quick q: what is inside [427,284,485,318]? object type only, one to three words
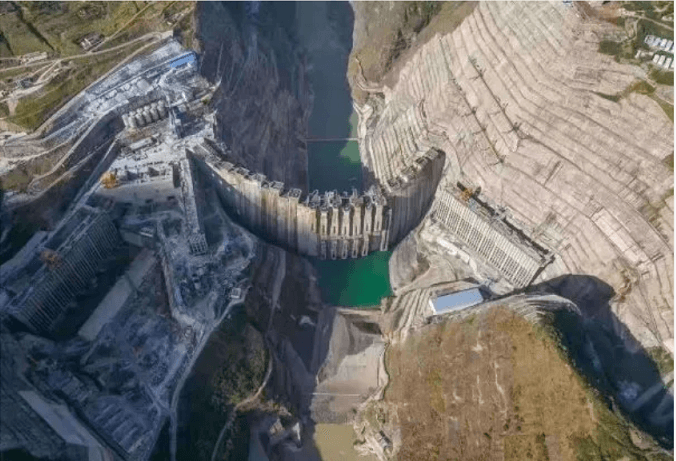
building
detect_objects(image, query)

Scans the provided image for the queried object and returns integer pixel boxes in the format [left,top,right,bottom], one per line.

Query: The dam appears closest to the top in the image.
[199,145,445,264]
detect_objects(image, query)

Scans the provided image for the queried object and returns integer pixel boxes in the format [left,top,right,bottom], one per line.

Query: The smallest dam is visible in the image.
[321,305,386,324]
